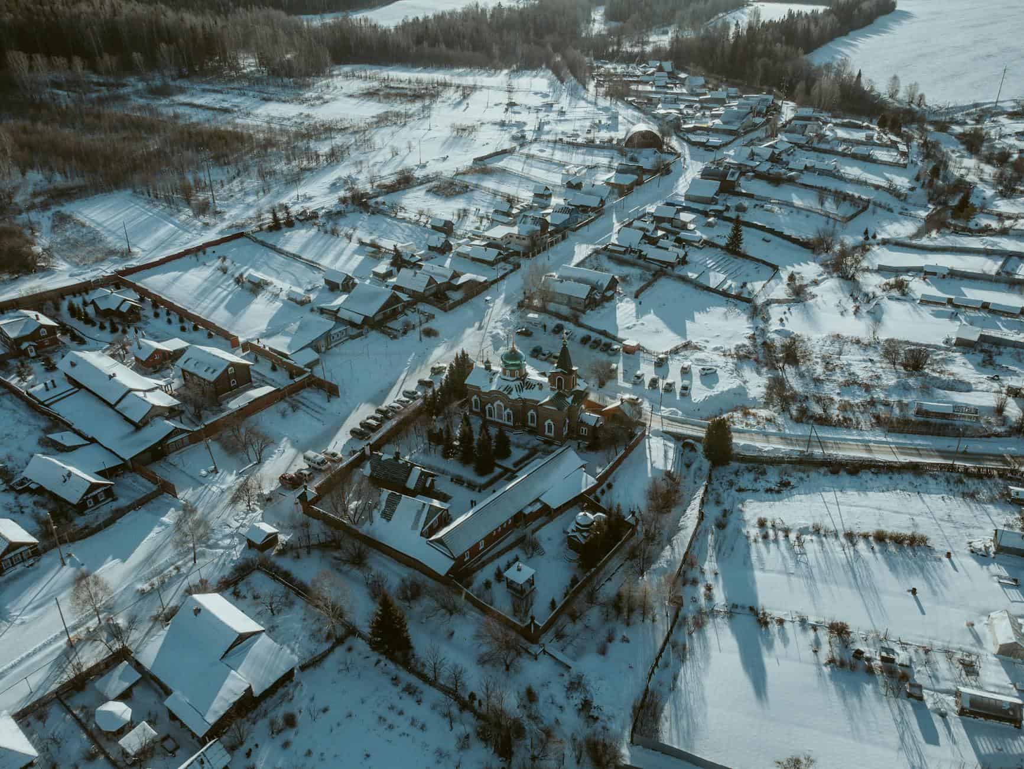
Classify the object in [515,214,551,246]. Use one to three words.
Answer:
house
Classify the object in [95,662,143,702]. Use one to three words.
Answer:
building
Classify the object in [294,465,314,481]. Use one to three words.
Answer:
car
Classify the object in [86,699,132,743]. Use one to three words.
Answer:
gazebo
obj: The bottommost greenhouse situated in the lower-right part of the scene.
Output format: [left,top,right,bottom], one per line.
[950,681,1024,737]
